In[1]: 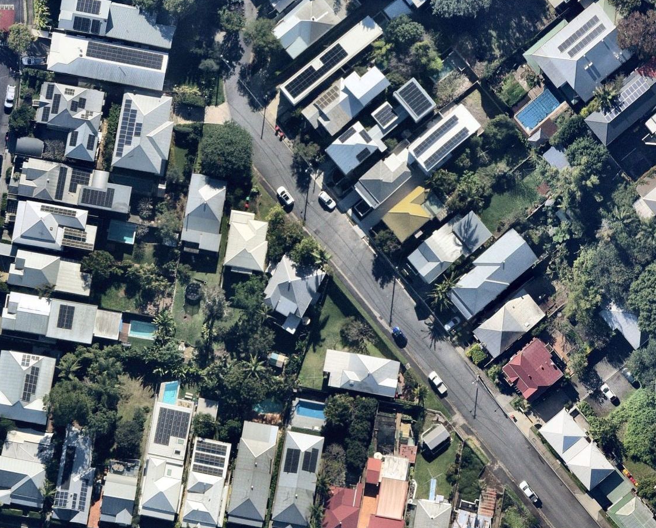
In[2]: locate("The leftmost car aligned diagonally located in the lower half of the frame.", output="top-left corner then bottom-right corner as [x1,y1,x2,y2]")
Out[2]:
[390,323,408,345]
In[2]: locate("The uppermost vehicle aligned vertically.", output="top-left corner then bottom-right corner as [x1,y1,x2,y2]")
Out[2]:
[3,82,15,109]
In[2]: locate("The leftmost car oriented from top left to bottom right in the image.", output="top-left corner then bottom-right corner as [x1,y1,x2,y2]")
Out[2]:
[274,184,296,208]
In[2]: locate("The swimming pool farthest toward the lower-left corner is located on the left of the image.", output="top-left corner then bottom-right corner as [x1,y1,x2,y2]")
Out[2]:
[162,380,179,405]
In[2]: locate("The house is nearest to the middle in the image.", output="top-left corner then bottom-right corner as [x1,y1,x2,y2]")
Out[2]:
[263,254,327,333]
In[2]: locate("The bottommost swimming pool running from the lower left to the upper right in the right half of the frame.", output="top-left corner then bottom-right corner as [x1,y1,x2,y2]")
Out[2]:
[513,86,562,133]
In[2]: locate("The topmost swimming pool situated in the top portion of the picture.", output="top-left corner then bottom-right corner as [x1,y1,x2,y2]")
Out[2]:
[444,50,468,77]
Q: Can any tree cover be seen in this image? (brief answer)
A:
Yes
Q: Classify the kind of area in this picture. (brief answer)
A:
residential area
